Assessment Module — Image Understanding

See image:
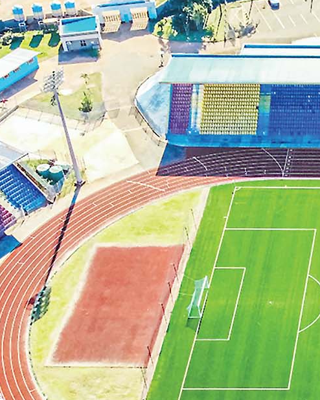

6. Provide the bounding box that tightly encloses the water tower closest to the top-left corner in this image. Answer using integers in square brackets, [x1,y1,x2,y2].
[9,0,29,32]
